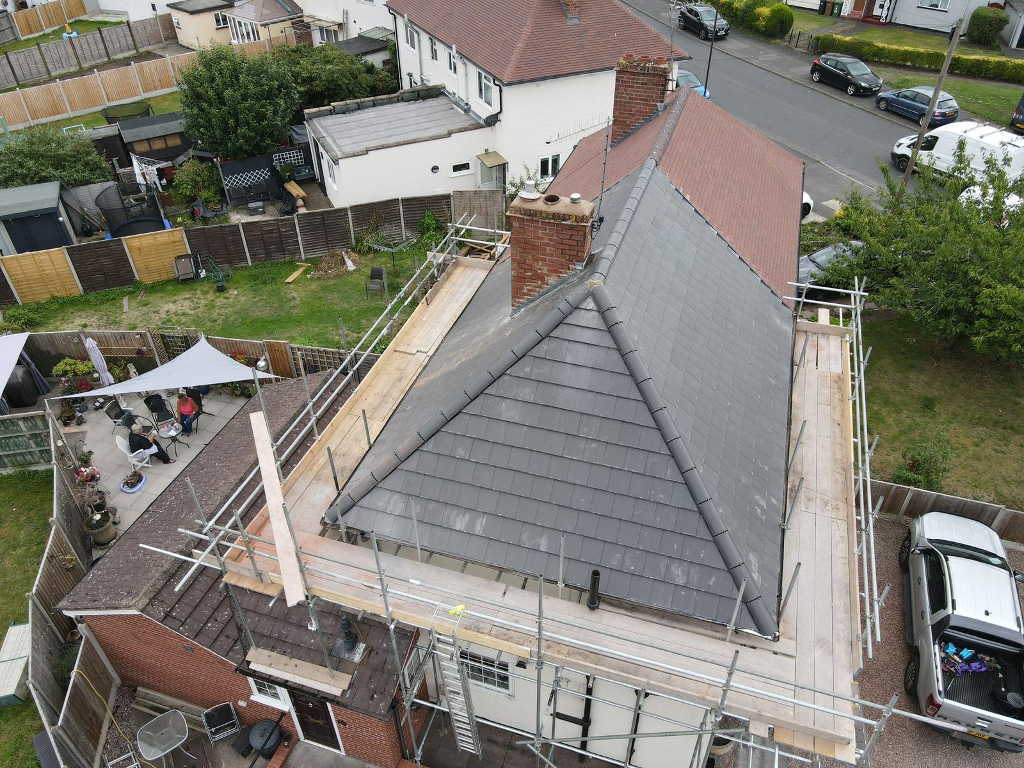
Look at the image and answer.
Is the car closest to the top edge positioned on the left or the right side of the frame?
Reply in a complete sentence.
The car closest to the top edge appears in the right half of the scene.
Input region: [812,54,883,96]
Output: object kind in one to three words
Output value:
car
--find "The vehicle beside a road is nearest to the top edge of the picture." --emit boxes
[680,4,726,39]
